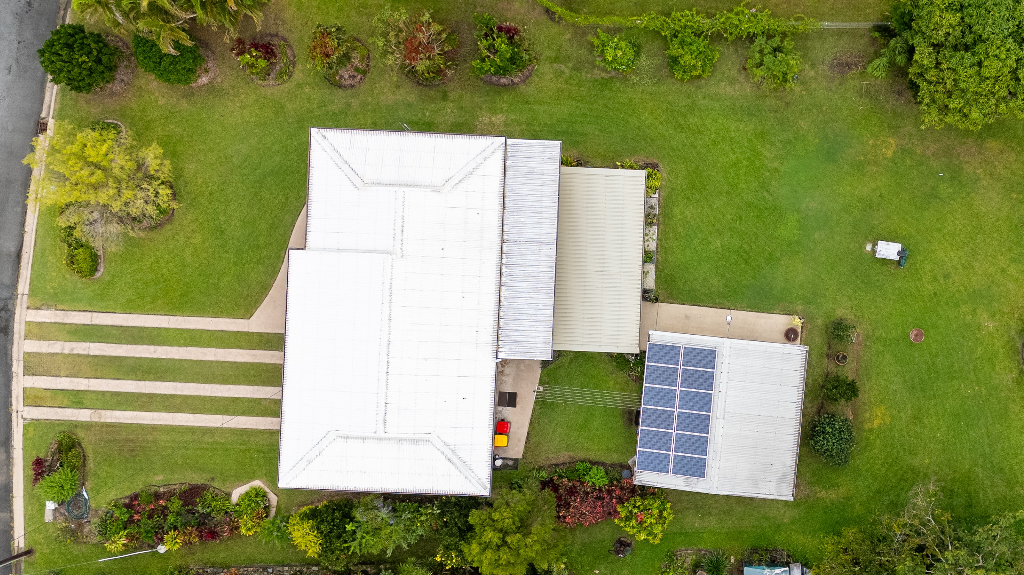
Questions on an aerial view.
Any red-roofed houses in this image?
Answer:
No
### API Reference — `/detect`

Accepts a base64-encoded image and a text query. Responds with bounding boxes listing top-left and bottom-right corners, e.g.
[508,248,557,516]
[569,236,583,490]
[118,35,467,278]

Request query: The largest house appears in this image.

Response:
[276,128,509,498]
